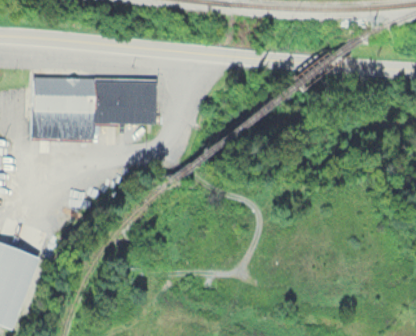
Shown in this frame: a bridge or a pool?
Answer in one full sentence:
It is a bridge that can be seen here.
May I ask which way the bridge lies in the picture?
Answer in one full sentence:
From this overhead view, the bridge appears to run diagonally.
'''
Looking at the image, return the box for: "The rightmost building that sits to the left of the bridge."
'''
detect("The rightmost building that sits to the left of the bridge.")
[94,78,160,126]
